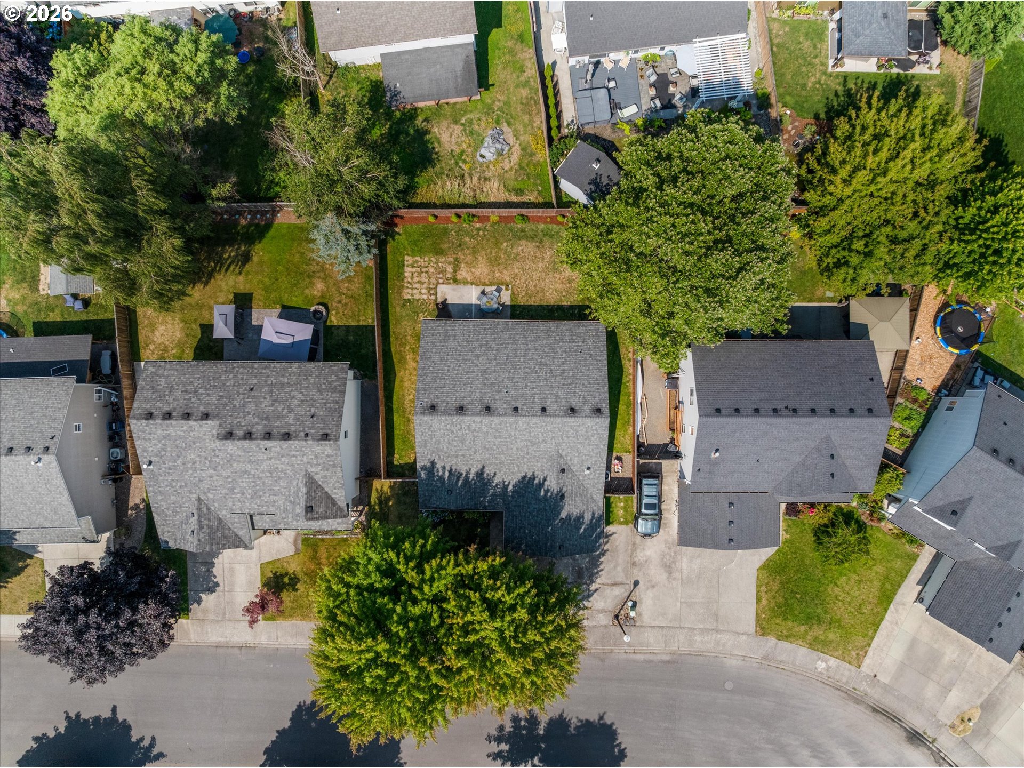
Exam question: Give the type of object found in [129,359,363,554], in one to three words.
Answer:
house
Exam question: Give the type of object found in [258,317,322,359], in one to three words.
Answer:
gazebo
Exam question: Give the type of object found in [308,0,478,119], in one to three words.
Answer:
house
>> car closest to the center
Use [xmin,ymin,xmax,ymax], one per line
[632,474,665,539]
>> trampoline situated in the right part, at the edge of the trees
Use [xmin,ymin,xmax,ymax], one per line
[931,300,1003,355]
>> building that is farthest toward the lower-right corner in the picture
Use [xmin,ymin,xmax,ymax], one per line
[868,379,1024,658]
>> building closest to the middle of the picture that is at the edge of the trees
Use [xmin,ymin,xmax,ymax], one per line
[416,318,610,556]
